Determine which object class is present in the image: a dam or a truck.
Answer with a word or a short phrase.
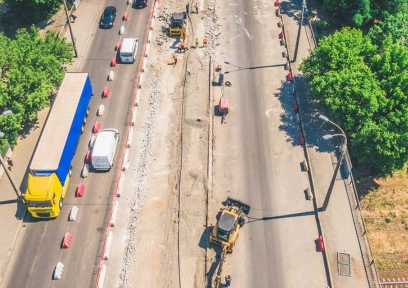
truck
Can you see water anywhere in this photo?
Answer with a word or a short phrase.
No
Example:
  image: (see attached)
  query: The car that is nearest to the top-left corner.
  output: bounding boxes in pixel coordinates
[99,7,116,27]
